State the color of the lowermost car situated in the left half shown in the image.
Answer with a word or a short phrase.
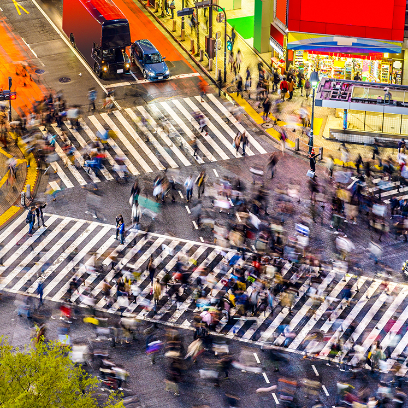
blue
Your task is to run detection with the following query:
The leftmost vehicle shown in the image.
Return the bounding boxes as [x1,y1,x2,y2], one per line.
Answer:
[59,0,136,80]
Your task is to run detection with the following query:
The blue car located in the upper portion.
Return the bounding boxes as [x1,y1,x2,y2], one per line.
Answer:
[129,41,170,81]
